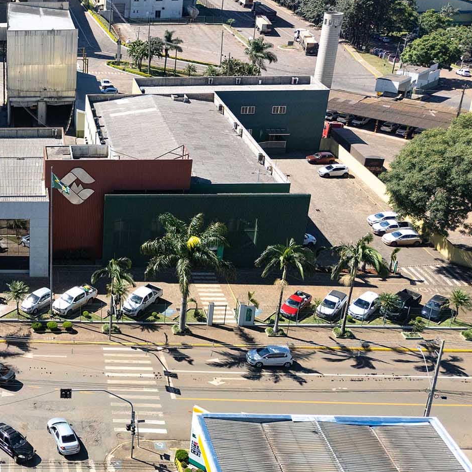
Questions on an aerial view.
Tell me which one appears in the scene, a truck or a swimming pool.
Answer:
truck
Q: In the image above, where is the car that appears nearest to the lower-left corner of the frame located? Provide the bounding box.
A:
[0,414,36,460]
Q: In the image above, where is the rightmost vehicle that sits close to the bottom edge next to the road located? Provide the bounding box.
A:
[46,409,86,453]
